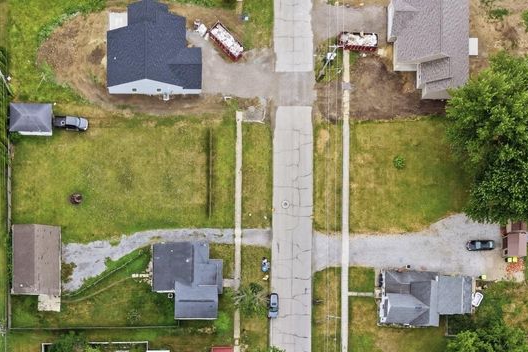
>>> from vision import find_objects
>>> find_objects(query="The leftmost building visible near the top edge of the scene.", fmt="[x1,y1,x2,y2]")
[106,0,203,99]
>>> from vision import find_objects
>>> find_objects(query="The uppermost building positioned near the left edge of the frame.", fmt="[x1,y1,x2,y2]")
[9,103,54,138]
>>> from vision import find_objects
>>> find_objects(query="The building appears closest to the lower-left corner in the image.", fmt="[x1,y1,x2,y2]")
[12,222,62,295]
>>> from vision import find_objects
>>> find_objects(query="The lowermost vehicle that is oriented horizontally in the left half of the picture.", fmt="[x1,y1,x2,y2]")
[54,116,88,132]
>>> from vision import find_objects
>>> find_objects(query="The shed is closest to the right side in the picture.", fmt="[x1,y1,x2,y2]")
[500,221,527,258]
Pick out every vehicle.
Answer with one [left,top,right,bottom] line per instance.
[266,292,280,320]
[54,116,88,132]
[465,238,495,252]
